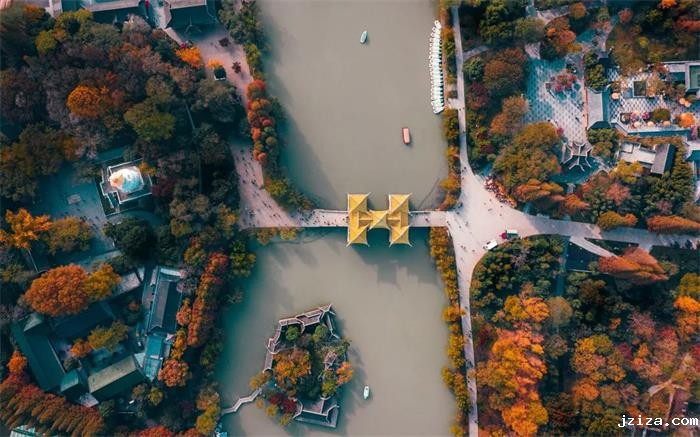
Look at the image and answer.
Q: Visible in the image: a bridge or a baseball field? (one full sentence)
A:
It is a bridge that can be seen here.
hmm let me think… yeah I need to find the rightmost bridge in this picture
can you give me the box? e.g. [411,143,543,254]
[305,192,448,248]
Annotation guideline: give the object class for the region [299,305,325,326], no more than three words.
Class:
building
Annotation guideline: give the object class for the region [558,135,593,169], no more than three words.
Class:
building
